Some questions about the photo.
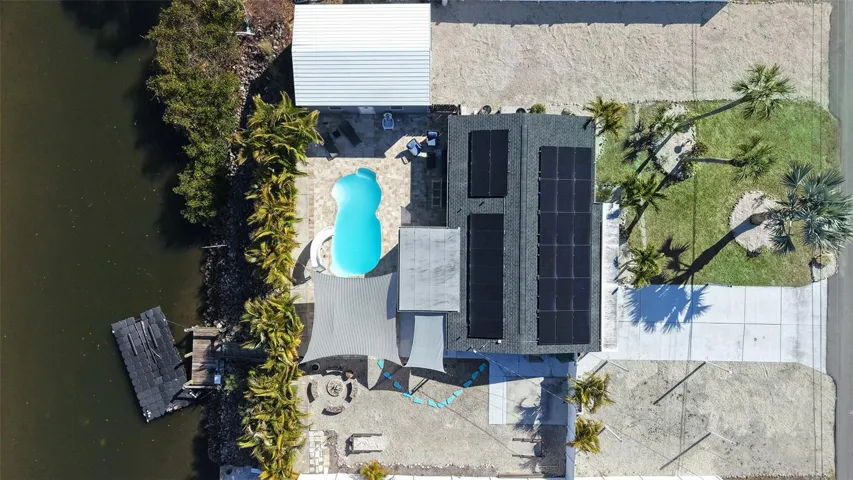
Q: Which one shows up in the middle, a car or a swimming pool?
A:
swimming pool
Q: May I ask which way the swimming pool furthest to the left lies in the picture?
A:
vertically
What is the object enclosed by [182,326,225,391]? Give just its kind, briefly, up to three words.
pier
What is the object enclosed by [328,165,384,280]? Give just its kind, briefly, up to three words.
swimming pool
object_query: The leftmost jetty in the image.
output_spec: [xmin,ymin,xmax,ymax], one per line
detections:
[113,306,197,421]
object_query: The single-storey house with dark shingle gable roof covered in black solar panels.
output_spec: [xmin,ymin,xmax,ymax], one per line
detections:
[444,112,603,356]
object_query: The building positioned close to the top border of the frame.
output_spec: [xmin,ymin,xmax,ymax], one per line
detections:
[292,3,431,114]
